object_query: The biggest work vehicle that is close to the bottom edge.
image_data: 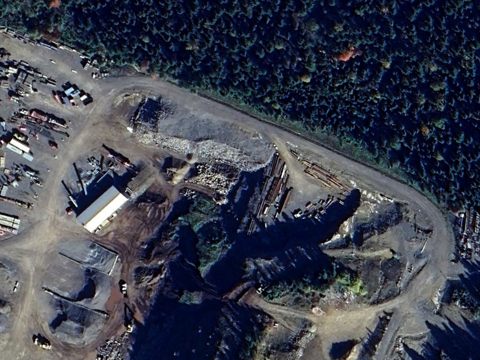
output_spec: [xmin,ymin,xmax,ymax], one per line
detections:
[31,335,50,349]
